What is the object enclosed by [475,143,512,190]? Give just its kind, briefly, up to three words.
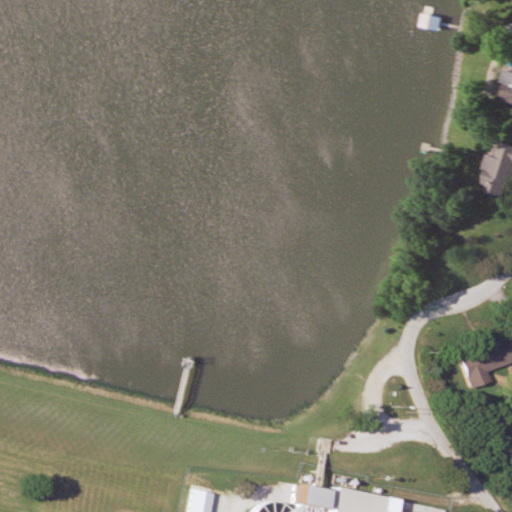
house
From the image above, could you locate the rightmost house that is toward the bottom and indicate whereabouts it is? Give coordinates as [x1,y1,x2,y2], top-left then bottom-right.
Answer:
[459,346,512,388]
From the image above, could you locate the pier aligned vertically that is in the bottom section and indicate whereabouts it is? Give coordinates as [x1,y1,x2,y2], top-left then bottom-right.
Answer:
[174,358,193,414]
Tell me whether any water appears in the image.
Yes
